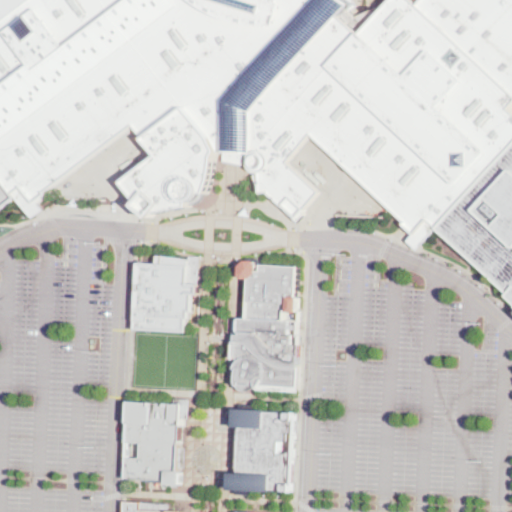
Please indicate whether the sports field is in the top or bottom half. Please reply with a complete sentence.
You can find the sports field in the bottom half.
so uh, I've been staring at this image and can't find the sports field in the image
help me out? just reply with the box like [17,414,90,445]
[132,332,198,390]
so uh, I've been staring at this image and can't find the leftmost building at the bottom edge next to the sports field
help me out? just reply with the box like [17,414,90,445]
[122,400,190,487]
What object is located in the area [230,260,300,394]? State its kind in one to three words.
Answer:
building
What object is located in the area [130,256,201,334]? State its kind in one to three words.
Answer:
building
